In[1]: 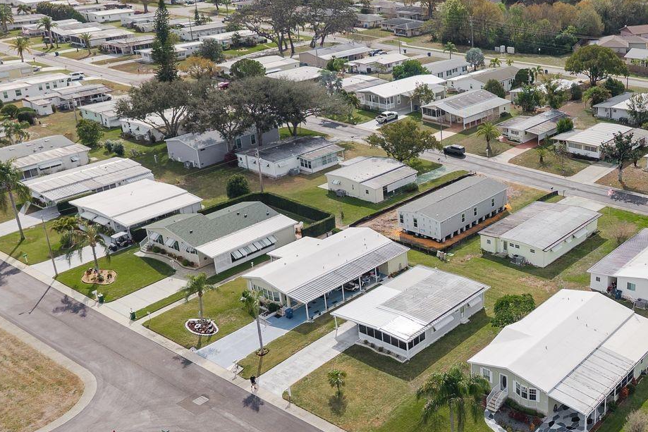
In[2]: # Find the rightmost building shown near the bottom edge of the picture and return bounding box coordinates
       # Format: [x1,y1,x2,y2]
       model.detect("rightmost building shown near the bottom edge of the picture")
[466,289,648,432]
